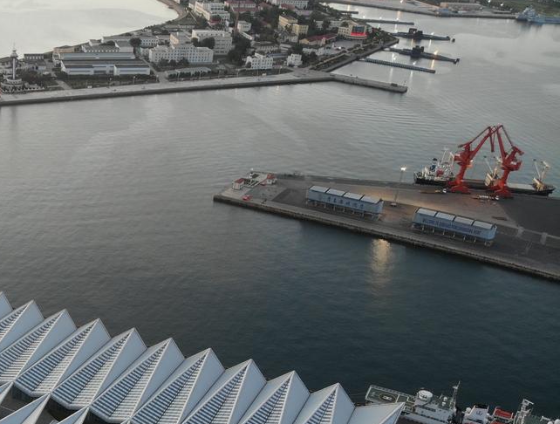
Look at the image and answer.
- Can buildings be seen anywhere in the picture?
Yes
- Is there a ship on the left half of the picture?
No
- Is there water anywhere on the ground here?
Yes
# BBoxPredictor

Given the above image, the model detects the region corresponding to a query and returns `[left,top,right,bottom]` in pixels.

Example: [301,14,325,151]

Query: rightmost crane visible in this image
[488,124,538,201]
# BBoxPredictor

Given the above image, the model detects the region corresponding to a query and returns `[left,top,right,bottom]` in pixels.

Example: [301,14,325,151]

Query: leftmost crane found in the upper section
[446,124,501,196]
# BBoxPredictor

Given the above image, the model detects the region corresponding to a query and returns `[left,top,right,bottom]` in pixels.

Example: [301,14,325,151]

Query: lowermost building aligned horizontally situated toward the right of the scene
[415,210,504,247]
